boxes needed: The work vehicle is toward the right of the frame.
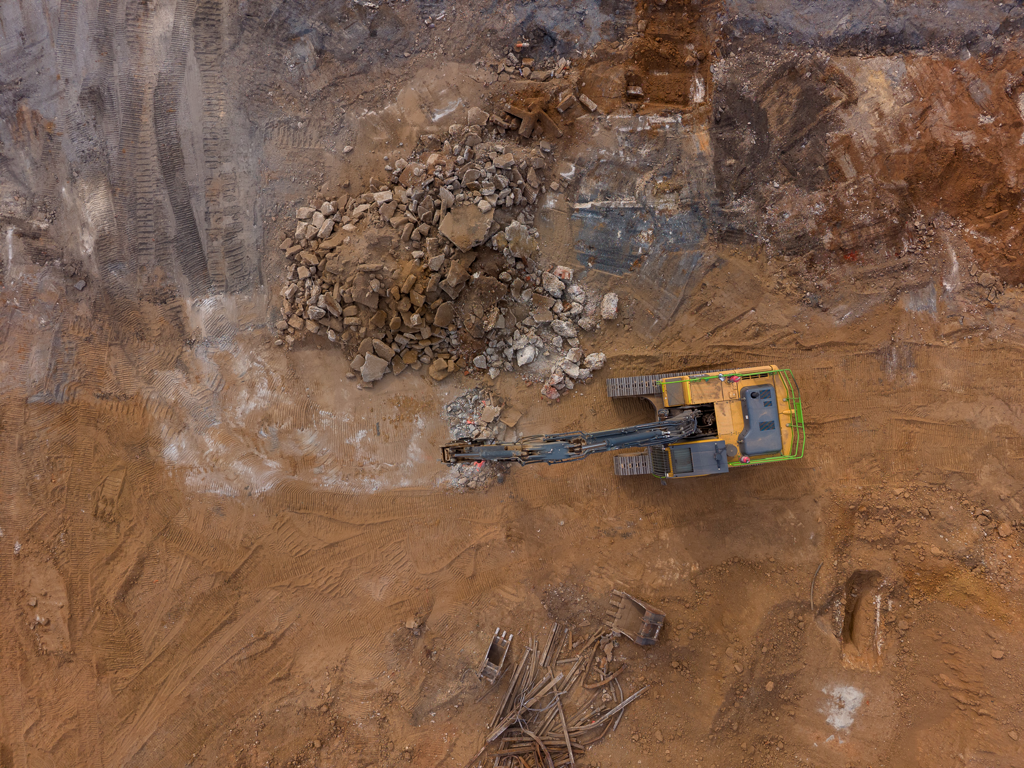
[438,365,806,485]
